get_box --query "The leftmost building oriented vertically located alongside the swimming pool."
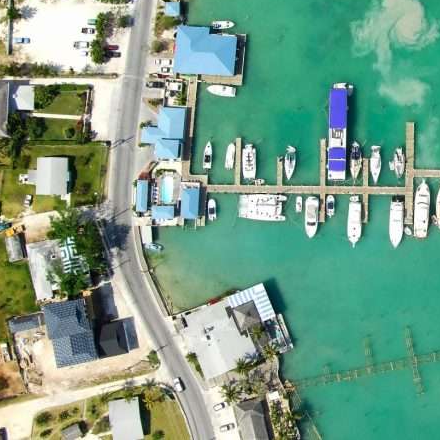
[136,179,151,213]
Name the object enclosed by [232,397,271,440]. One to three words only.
house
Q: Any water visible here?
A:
Yes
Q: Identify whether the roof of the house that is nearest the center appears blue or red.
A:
blue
